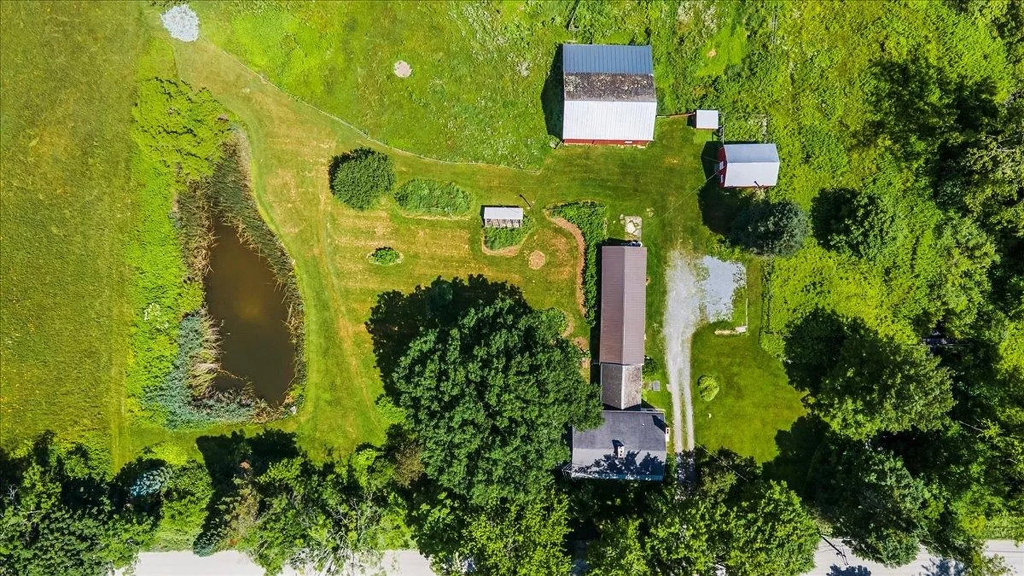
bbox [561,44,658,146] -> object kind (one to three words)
barn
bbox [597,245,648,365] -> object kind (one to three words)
shed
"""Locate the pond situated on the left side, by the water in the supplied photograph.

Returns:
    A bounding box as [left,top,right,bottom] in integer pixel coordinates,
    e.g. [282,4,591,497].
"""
[205,213,297,405]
